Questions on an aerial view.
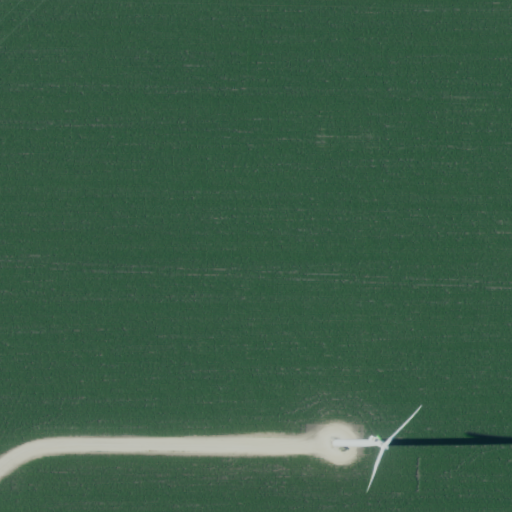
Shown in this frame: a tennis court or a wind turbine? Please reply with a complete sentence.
Of the two, only a wind turbine appears.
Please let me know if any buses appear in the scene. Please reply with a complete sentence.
No, there appears to be no bus in this shot.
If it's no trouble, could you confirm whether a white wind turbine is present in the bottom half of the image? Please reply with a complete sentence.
Yes, there is a white wind turbine in the bottom half of the image.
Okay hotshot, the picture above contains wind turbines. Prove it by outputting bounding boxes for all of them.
[331,406,420,492]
